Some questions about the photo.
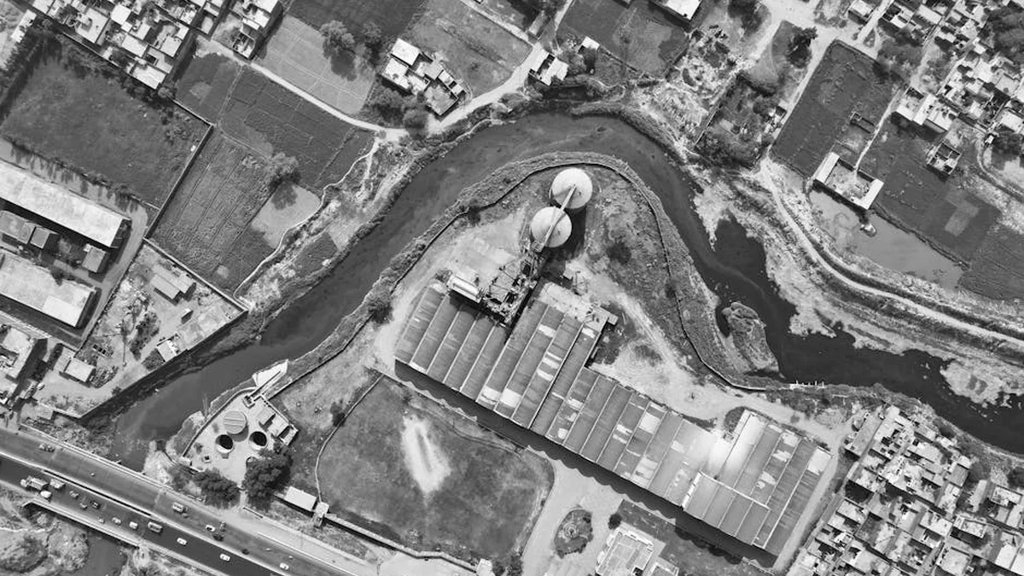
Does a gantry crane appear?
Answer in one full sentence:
No, I can see no gantry crane in this picture.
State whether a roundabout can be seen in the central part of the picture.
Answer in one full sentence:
No, I see no roundabout in the central part of the picture.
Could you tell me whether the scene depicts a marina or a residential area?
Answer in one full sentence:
What you see here is a residential area.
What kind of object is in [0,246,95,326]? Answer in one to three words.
building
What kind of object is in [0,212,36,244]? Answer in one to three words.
shed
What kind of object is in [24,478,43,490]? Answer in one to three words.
vehicle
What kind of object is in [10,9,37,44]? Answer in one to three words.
house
